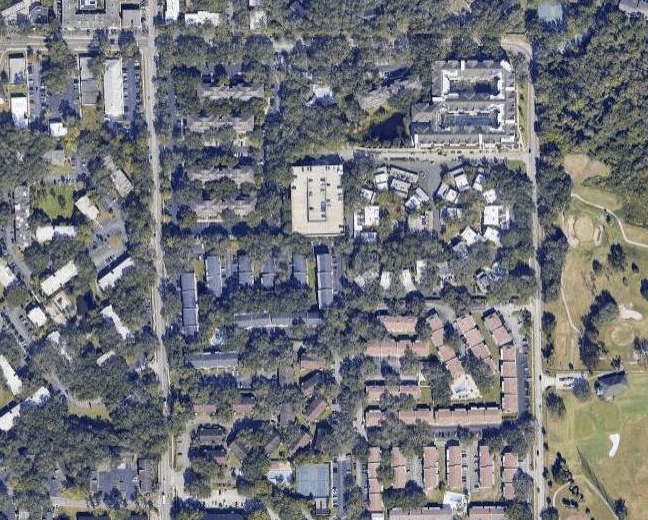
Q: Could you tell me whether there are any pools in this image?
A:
Yes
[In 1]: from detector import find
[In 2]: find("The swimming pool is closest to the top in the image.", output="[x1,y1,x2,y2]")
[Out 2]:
[313,85,333,105]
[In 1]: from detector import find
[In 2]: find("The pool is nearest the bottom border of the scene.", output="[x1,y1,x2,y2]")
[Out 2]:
[444,491,466,513]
